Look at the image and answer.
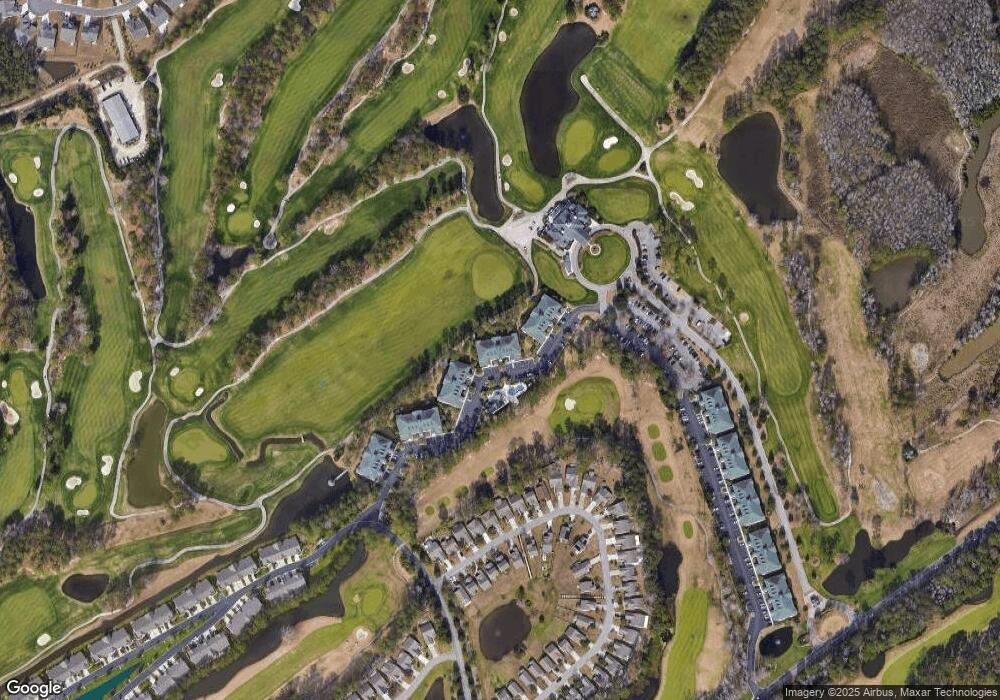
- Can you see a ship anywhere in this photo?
No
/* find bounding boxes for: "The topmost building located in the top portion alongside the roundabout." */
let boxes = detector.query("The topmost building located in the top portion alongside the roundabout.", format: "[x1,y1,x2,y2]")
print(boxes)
[541,195,591,250]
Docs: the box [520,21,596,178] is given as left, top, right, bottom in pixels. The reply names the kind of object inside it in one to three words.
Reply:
pond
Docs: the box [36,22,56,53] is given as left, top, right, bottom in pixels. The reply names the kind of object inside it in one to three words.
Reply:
house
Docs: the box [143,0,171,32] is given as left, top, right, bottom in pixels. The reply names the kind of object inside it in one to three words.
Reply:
house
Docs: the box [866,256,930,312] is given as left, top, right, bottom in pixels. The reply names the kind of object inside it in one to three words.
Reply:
pond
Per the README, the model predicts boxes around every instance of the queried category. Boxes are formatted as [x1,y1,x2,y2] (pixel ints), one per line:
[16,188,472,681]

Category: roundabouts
[572,225,637,289]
